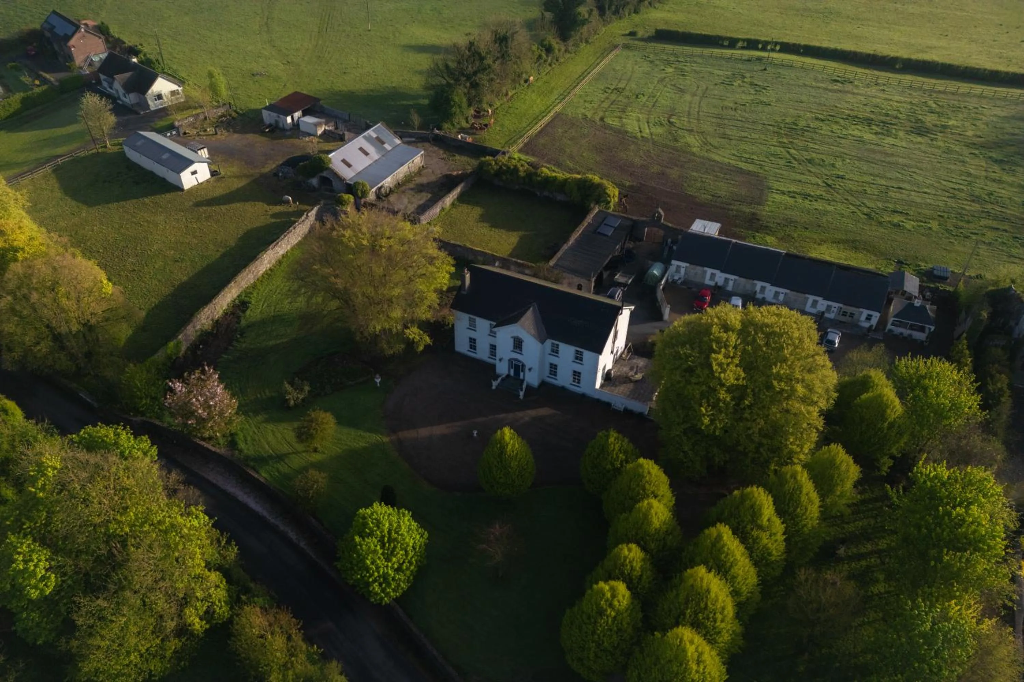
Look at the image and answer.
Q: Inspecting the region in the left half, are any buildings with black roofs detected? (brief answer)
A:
Yes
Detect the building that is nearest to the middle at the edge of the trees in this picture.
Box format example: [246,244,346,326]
[450,264,636,402]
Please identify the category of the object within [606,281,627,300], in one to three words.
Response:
car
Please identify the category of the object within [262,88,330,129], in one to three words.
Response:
shed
